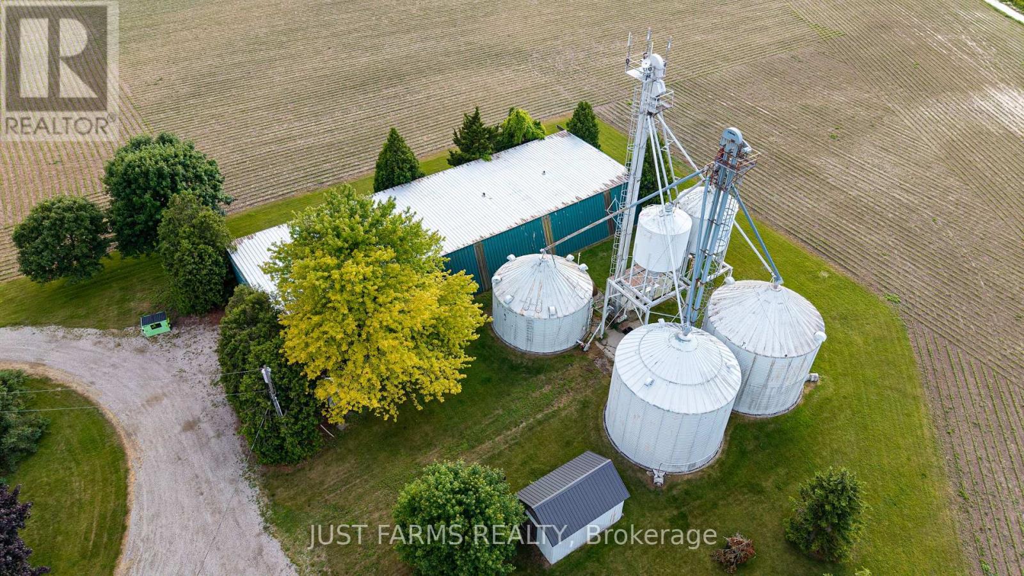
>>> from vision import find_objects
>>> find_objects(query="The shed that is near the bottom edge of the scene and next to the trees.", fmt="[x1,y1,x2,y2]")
[511,453,631,565]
